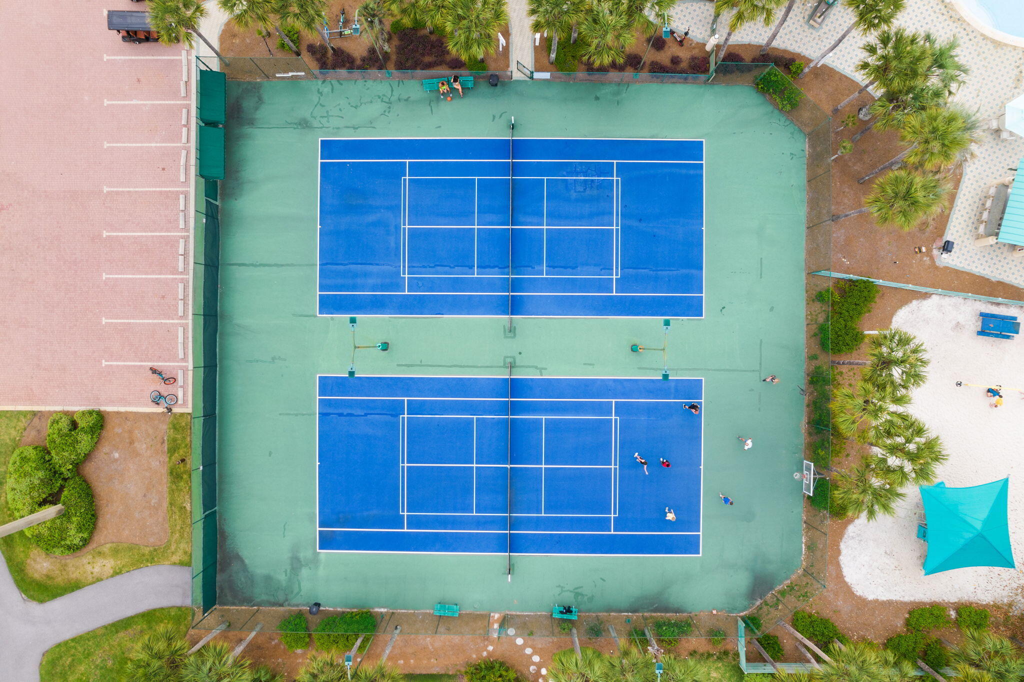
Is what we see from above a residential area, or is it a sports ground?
sports ground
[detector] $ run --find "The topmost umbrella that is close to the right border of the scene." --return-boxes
[999,91,1024,145]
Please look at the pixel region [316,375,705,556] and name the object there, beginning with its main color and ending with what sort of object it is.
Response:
blue tennis court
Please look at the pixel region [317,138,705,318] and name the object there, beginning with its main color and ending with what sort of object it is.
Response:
blue tennis court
